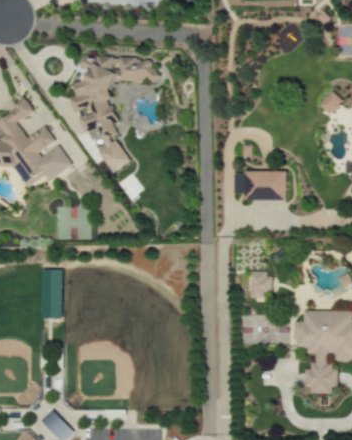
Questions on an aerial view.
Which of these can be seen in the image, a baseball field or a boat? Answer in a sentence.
The one in the frame is a baseball field.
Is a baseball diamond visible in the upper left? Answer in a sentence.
No, I can find no baseball diamond in the upper left.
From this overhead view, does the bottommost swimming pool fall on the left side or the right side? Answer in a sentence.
You can find the bottommost swimming pool on the right side of the picture.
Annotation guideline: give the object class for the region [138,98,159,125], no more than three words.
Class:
swimming pool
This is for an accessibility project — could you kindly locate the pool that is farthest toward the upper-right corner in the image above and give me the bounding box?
[331,128,348,160]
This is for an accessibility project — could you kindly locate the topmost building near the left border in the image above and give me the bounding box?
[0,95,74,186]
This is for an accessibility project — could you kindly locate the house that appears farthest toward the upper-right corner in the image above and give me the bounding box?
[235,172,288,200]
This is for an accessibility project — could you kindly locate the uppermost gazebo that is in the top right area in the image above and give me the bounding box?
[322,92,342,113]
